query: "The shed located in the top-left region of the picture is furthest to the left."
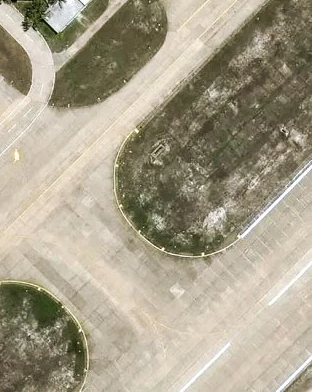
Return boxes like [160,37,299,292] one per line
[41,0,85,32]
